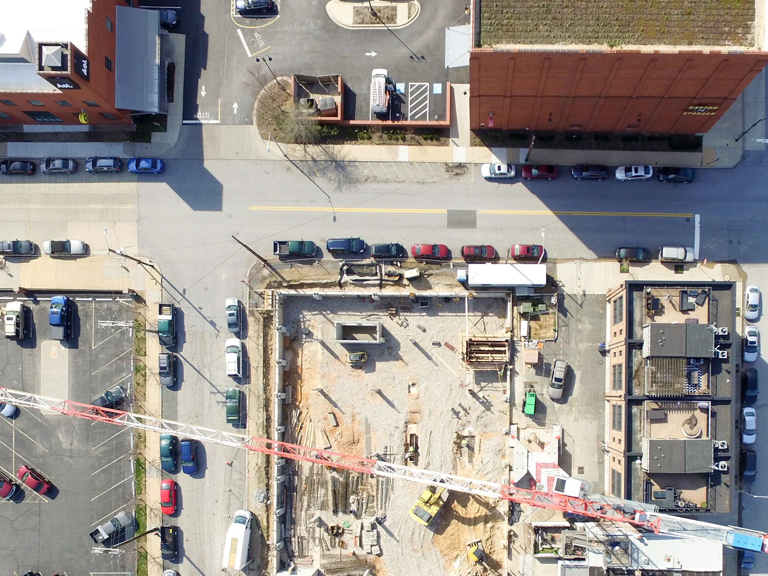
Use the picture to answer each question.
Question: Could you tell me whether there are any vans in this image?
Yes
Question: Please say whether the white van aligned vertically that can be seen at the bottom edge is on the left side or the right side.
left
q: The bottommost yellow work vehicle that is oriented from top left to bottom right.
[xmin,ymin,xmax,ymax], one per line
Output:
[460,539,491,576]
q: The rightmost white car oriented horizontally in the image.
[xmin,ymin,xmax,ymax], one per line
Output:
[657,244,695,262]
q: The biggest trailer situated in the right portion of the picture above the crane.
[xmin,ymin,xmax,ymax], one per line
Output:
[462,263,555,300]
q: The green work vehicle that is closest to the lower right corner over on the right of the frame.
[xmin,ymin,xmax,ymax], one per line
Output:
[522,384,539,414]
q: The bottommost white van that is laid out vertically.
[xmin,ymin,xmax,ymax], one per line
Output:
[220,508,252,572]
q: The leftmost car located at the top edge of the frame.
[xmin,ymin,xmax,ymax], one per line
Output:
[161,8,180,28]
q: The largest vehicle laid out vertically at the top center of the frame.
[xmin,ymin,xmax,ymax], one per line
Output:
[371,67,390,115]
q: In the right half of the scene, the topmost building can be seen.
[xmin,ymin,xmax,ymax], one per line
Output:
[471,0,768,135]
